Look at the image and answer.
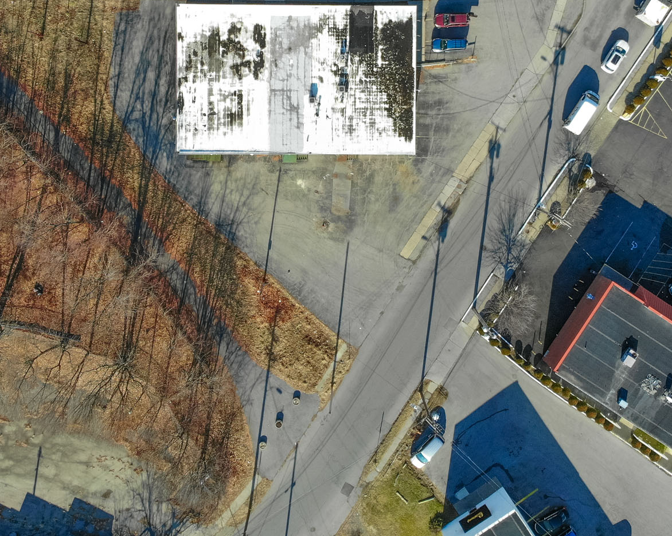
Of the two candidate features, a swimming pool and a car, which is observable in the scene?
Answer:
car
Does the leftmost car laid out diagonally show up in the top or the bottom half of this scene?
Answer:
bottom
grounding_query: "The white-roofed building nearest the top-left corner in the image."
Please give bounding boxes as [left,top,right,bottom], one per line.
[177,5,415,153]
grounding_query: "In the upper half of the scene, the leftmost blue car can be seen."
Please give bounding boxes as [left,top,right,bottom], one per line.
[431,36,467,53]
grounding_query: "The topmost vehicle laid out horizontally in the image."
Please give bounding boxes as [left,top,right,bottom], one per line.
[433,11,469,29]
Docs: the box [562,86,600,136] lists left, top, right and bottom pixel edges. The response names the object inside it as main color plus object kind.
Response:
white van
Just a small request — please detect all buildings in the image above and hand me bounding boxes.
[542,267,672,446]
[440,487,532,536]
[177,5,415,153]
